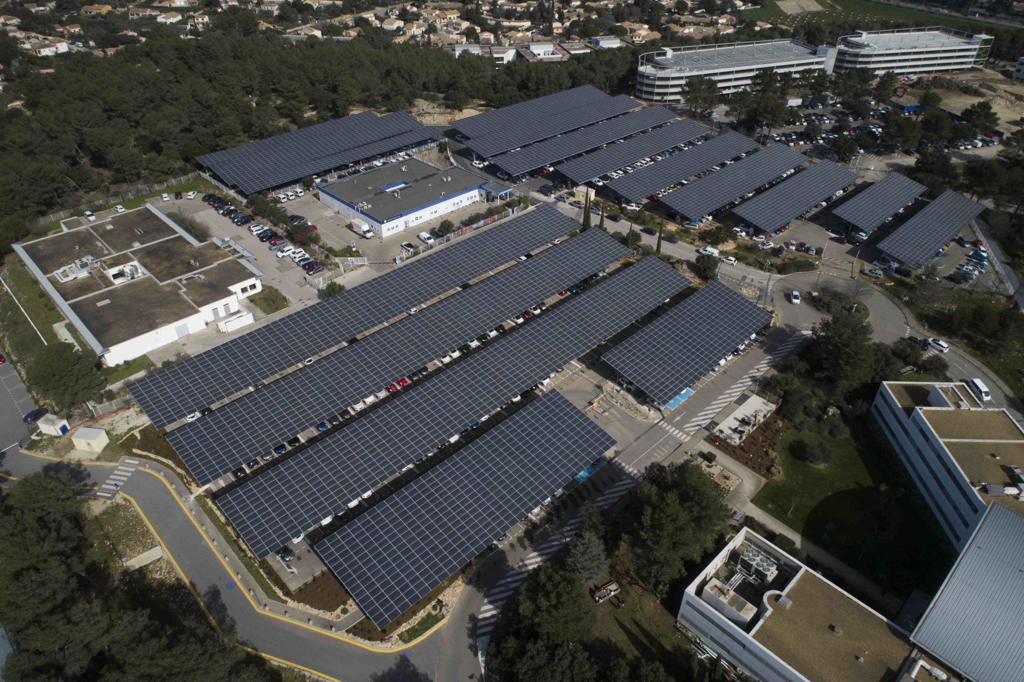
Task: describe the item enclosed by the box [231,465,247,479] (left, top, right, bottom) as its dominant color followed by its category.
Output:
black car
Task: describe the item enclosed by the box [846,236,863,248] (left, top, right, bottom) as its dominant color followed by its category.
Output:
black vehicle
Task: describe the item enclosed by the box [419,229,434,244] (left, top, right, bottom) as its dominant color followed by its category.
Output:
white vehicle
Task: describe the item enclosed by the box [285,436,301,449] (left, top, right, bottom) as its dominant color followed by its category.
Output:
black vehicle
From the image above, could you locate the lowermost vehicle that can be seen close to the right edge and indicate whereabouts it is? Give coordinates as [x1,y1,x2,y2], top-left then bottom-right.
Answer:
[969,377,991,400]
